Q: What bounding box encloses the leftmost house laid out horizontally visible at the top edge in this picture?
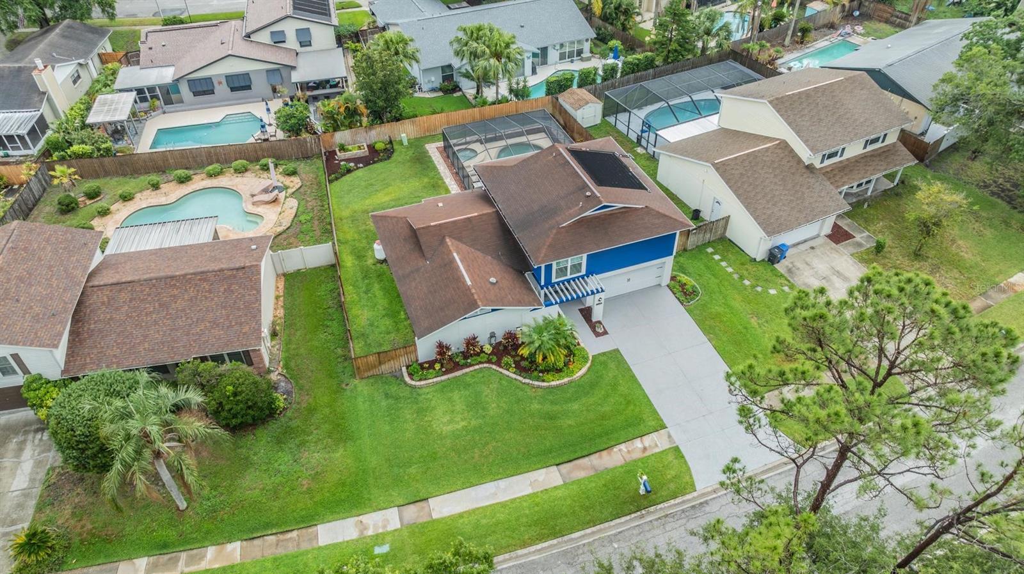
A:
[114,0,350,107]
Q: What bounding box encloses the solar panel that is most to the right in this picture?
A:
[564,144,649,192]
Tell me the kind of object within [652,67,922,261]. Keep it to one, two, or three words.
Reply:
house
